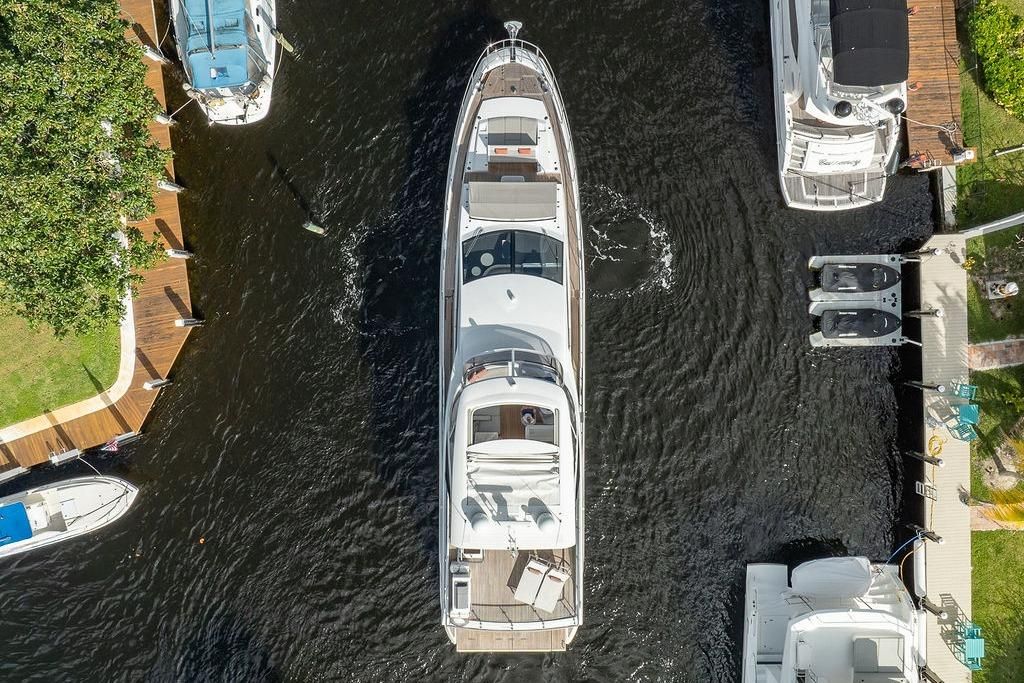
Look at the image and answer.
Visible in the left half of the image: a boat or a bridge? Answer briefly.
boat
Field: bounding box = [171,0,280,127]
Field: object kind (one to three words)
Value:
boat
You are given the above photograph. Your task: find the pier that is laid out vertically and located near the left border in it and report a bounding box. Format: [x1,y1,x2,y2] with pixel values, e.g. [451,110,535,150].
[0,0,196,473]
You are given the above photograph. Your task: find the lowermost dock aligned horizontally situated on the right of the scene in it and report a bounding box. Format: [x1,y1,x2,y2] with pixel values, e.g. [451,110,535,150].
[806,301,900,347]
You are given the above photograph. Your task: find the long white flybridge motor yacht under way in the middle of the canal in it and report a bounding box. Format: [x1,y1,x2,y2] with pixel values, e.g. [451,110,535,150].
[440,23,585,652]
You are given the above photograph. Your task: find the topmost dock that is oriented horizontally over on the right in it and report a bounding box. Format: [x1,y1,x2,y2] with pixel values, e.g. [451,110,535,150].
[806,256,900,302]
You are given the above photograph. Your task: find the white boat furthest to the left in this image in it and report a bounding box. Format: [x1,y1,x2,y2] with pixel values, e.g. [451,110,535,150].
[0,474,143,557]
